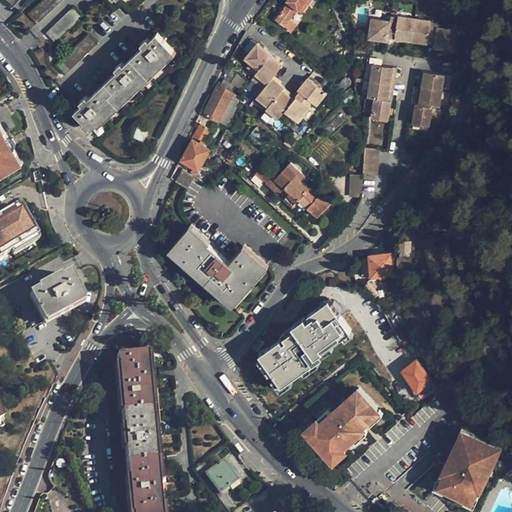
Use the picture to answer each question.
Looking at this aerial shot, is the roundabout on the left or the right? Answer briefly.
left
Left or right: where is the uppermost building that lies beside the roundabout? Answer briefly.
left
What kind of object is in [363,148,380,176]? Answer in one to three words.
house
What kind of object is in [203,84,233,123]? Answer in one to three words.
house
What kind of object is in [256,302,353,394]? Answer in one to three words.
building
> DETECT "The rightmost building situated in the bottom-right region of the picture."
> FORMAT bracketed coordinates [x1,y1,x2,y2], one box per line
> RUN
[433,426,502,512]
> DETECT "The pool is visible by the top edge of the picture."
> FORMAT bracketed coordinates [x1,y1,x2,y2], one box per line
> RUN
[353,3,372,27]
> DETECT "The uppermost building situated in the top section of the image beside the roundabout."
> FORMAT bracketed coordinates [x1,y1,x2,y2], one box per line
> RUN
[72,32,182,137]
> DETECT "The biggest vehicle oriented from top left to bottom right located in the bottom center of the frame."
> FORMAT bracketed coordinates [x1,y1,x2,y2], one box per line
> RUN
[220,374,237,394]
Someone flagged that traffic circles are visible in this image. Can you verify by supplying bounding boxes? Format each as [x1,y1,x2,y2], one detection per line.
[64,172,148,254]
